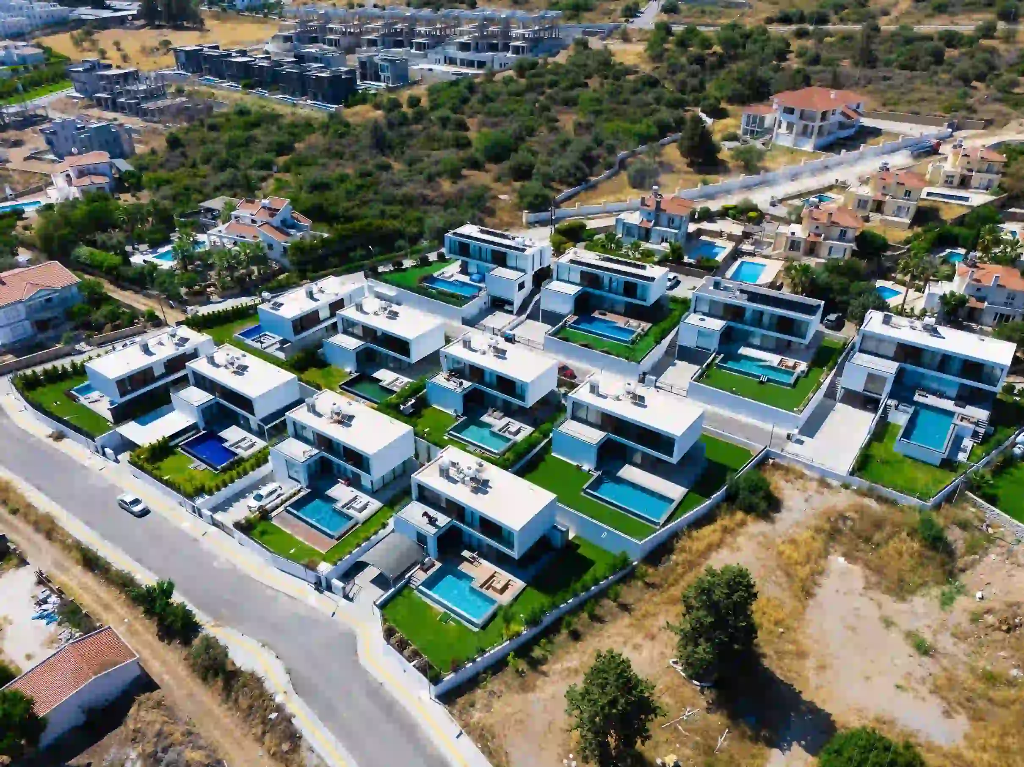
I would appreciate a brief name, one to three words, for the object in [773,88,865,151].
house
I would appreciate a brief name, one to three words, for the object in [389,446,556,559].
house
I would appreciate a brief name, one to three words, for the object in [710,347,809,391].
swimming pool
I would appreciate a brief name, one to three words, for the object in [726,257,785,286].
swimming pool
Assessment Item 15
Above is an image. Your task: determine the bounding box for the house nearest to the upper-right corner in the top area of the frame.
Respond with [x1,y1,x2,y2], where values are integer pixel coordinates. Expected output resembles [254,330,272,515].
[923,143,1008,195]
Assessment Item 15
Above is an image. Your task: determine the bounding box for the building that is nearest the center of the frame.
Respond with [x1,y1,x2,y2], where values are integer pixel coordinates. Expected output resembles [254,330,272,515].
[424,332,557,417]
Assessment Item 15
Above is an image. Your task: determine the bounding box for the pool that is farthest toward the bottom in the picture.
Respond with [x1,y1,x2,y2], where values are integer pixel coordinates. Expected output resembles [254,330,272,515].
[410,555,526,635]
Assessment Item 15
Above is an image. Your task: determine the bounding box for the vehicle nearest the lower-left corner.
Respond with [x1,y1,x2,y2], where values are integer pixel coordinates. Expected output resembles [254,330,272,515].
[111,489,151,515]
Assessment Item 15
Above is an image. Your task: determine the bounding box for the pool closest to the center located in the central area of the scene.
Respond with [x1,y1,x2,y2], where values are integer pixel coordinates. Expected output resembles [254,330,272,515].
[441,416,534,461]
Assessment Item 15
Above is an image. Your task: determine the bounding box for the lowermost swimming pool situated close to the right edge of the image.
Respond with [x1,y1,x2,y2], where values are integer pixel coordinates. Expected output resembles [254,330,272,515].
[890,395,990,471]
